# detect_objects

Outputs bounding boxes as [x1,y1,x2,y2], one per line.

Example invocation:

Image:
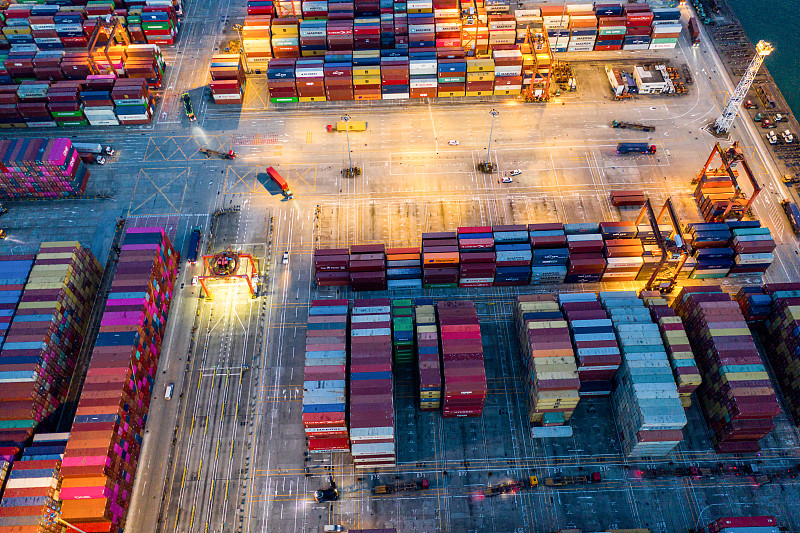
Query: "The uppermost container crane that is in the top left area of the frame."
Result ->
[78,20,127,74]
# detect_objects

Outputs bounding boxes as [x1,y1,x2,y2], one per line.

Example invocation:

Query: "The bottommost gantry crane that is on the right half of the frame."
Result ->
[632,196,695,291]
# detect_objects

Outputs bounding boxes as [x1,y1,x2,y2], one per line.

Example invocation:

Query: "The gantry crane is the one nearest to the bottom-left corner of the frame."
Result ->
[193,249,259,306]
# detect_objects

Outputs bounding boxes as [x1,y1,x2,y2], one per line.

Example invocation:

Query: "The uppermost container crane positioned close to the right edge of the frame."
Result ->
[686,140,765,221]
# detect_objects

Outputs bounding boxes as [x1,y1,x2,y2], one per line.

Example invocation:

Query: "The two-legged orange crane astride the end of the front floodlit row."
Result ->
[523,25,559,102]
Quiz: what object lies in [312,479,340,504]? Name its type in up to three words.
work vehicle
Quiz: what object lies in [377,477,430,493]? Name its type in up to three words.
vehicle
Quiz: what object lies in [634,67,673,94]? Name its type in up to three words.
building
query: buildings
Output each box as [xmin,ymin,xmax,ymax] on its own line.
[634,67,673,94]
[613,71,632,95]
